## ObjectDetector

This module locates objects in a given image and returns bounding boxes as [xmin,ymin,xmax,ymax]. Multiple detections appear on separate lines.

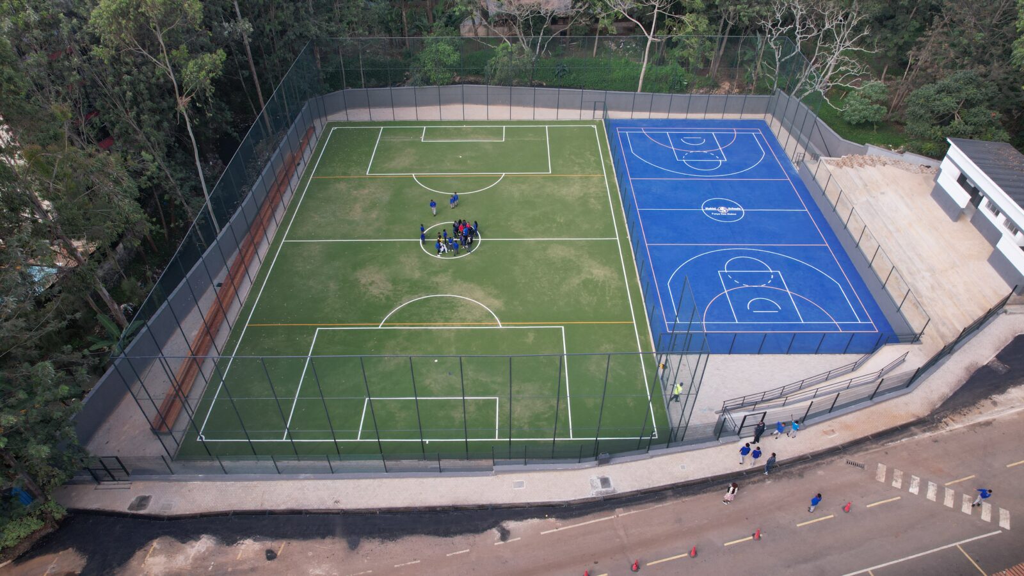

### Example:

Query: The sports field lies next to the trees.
[174,120,671,459]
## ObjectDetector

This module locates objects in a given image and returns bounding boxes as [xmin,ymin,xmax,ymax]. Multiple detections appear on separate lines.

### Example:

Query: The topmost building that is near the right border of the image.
[931,136,1024,295]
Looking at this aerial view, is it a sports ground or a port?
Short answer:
sports ground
